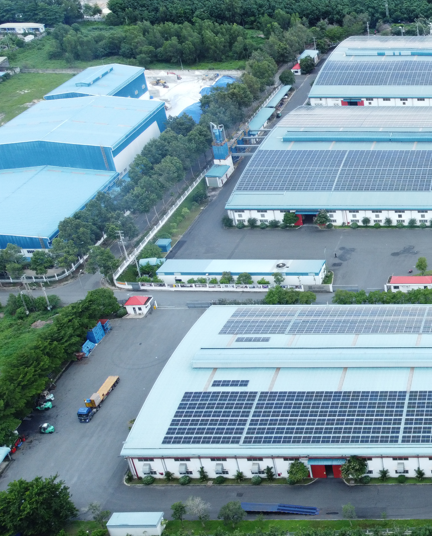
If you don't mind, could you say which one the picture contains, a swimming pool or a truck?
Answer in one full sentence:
I can see a truck in this picture.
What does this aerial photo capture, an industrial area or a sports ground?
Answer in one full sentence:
The picture captures an industrial area.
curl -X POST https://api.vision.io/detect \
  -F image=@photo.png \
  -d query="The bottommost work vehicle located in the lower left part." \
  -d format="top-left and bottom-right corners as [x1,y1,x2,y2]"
[31,422,53,435]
